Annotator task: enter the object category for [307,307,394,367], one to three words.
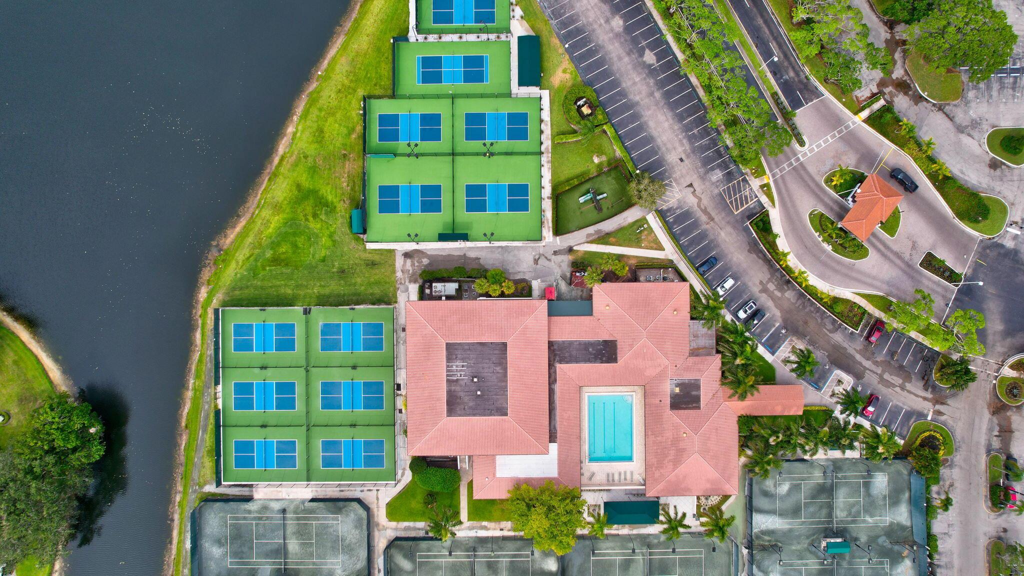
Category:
sports court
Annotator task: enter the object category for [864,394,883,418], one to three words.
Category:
car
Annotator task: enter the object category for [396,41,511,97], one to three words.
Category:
sports court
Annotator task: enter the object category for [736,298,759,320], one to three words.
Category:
car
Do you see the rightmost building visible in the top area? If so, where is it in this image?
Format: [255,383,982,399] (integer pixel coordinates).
[835,173,904,243]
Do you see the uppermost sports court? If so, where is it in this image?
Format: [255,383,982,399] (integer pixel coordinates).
[417,0,510,34]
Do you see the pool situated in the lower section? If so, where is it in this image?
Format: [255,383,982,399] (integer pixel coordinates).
[587,393,635,463]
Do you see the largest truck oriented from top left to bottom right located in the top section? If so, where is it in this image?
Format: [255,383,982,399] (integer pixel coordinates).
[891,167,923,193]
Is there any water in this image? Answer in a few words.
Yes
